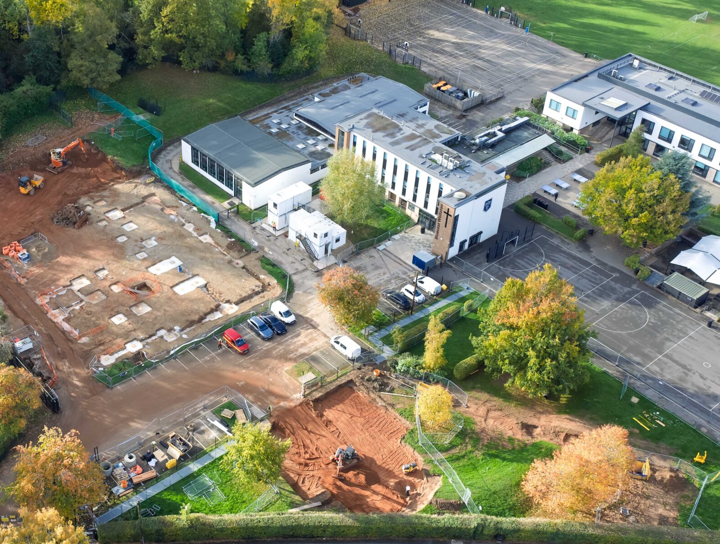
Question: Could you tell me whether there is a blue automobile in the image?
Yes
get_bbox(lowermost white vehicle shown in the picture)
[332,337,365,363]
